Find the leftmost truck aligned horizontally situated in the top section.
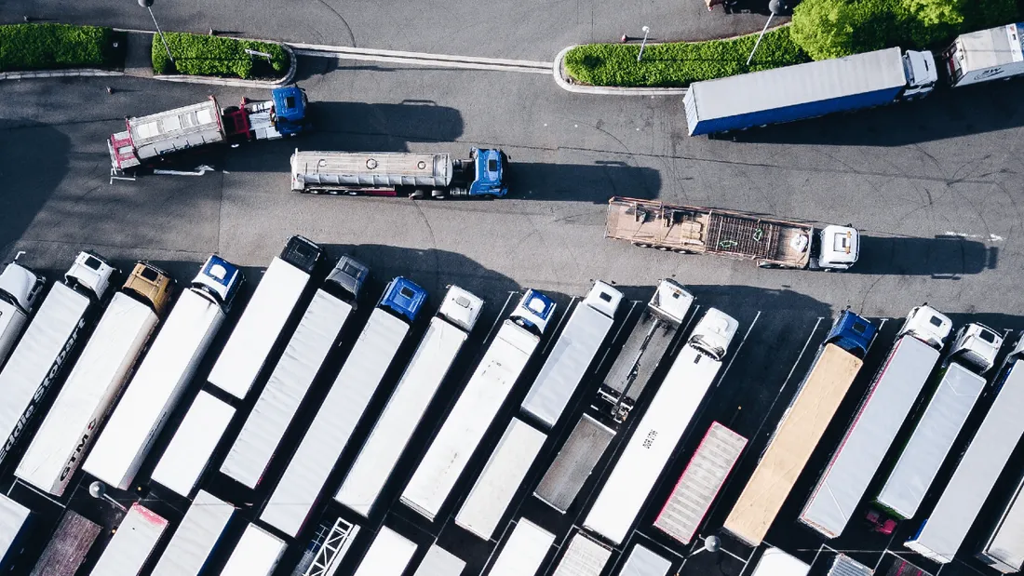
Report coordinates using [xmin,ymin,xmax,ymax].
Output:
[103,83,316,189]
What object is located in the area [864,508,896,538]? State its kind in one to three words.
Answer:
work vehicle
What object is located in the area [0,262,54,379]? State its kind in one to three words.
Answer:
truck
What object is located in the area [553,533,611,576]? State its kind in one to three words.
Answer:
trailer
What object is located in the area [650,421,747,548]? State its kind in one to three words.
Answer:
trailer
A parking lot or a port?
parking lot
